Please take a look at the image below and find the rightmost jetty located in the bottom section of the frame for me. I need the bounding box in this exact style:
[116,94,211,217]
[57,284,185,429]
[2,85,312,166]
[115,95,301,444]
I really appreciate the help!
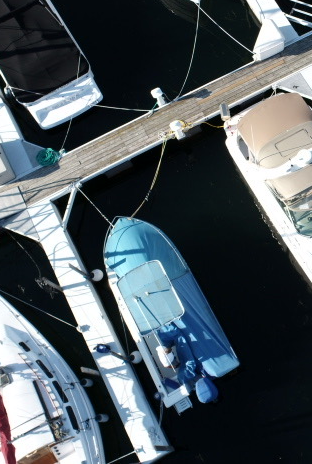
[32,194,172,464]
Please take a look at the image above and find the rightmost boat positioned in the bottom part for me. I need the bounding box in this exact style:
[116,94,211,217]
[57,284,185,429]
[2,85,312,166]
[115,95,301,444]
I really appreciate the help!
[105,210,239,414]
